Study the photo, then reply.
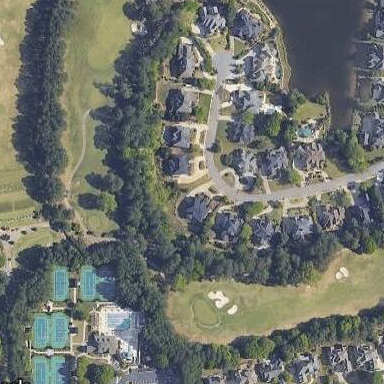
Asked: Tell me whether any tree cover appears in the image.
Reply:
Yes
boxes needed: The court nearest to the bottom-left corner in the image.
[34,356,52,384]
